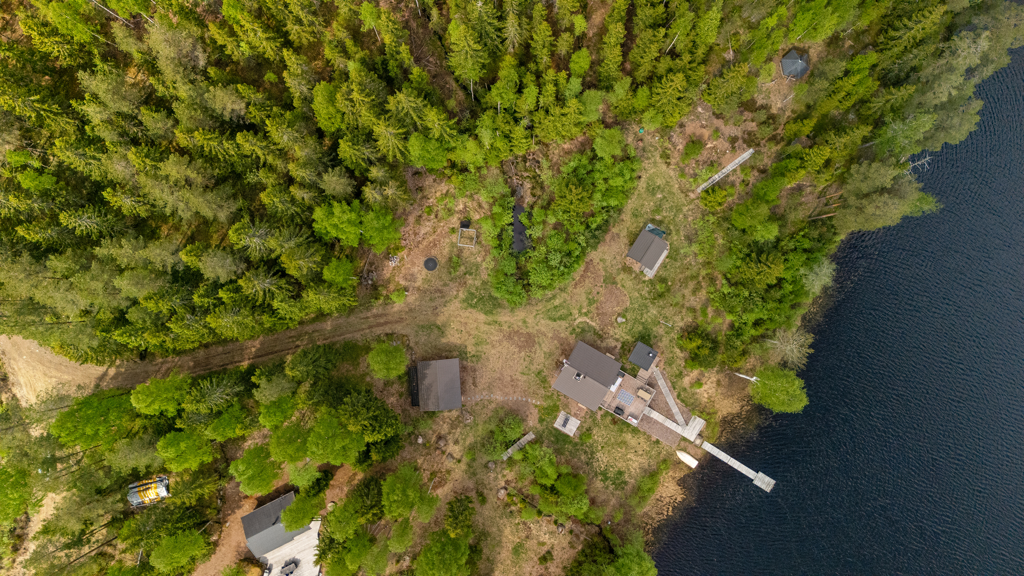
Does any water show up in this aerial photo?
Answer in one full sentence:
Yes, water can be seen from above here.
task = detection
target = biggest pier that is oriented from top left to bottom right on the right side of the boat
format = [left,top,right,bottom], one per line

[701,441,776,492]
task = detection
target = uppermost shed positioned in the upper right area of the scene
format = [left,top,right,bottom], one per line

[781,49,810,79]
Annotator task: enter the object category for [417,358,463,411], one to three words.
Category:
shed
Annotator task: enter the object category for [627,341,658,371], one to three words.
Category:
shed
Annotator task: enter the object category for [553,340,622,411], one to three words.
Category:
building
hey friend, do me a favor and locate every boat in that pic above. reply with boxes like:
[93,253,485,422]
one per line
[676,450,698,468]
